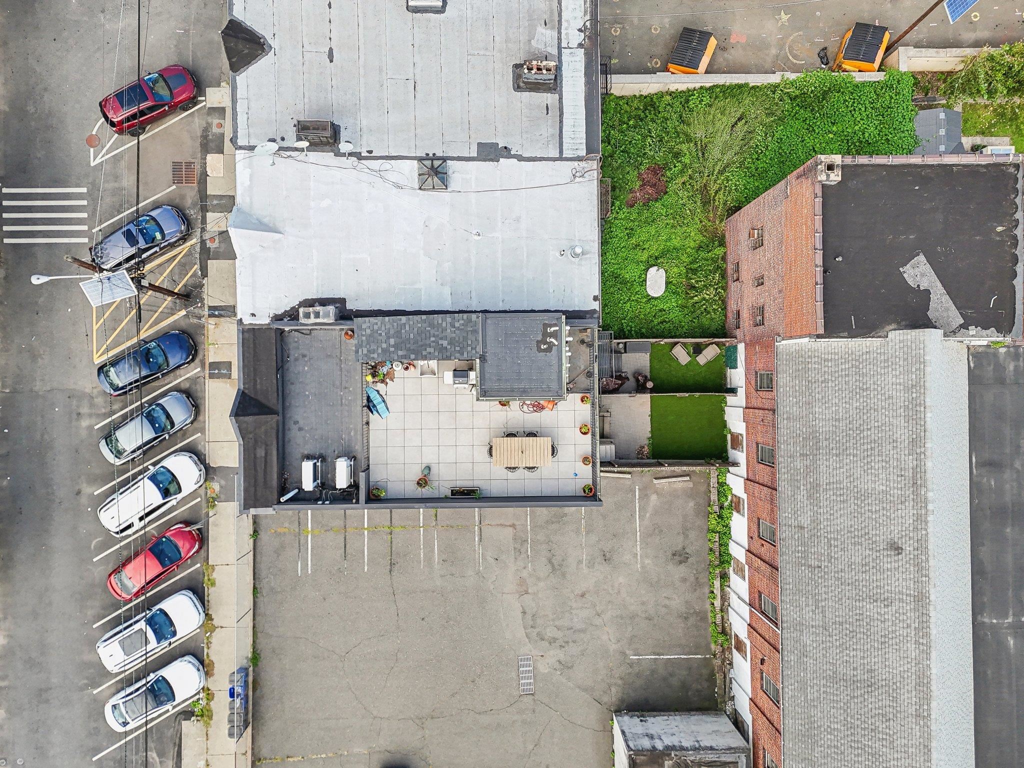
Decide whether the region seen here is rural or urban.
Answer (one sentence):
This place is urban.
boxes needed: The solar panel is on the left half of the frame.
[81,269,136,308]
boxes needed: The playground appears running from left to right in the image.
[600,0,1024,90]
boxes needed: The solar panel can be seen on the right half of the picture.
[940,0,982,23]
